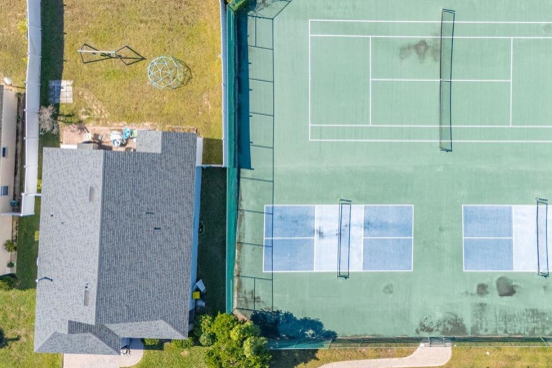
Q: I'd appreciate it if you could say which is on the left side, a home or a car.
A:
home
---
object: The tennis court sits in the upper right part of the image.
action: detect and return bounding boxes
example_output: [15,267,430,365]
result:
[309,19,552,141]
